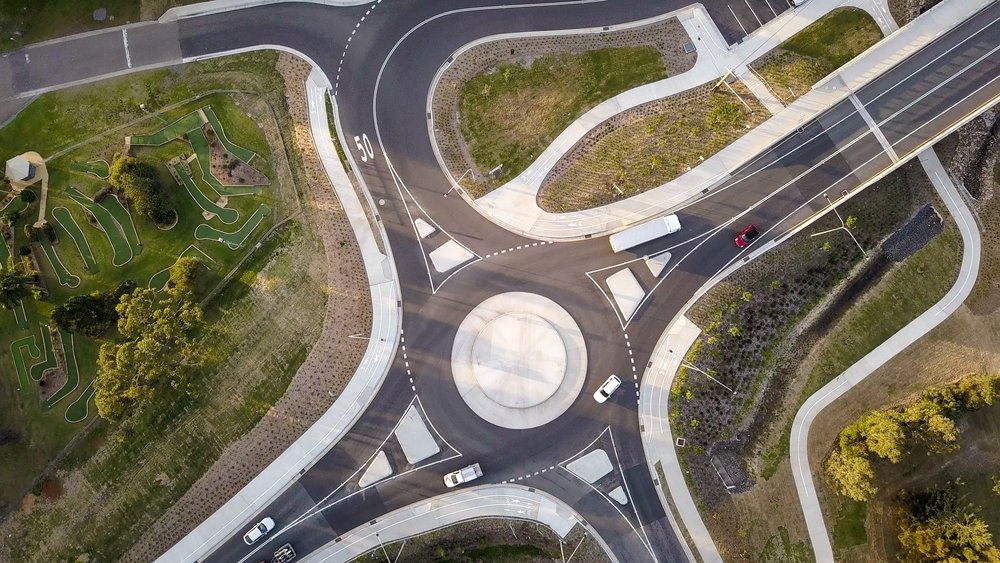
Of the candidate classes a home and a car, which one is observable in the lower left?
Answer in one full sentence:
Visible in the lower left is a car.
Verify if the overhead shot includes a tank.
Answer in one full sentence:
No, there's no tank here.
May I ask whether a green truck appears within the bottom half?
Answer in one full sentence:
No, I see no green truck within the bottom half.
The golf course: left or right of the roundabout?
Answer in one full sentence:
It is on the left side of the roundabout that the golf course is positioned.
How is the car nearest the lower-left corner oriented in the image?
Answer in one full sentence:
Seen from above, the car nearest the lower-left corner lies at an angle.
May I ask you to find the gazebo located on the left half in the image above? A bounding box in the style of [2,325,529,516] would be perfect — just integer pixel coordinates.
[5,155,40,184]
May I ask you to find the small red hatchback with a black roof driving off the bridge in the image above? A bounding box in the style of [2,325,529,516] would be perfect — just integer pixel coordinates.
[734,221,764,248]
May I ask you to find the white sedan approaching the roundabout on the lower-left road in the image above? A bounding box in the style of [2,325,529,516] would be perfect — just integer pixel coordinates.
[240,517,274,548]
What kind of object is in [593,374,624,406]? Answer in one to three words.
car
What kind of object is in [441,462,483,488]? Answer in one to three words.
truck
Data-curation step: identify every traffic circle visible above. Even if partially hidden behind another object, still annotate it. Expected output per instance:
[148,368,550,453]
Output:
[390,232,648,491]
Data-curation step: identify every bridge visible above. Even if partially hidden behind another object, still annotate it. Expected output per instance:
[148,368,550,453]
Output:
[751,0,1000,259]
